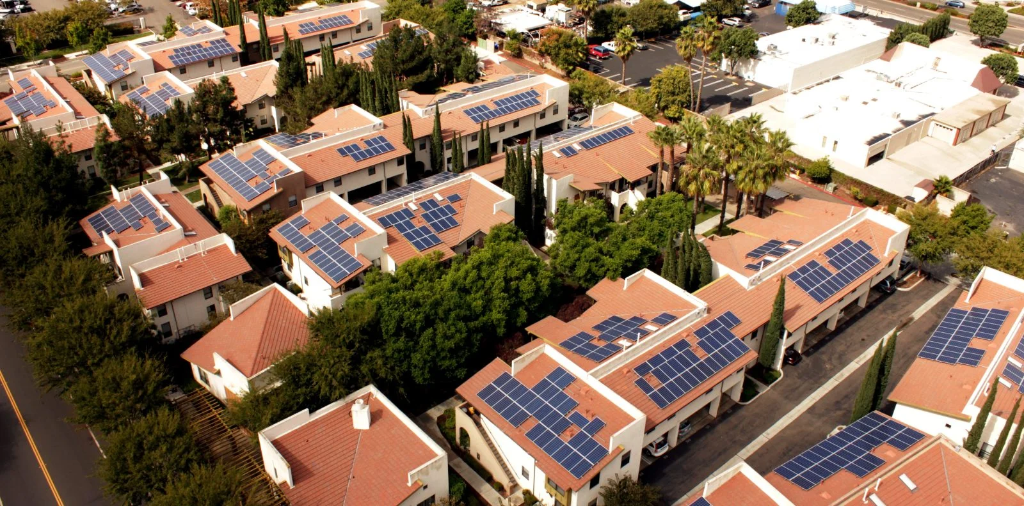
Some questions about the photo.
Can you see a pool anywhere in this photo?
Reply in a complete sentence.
No, I find no pool anywhere in the image.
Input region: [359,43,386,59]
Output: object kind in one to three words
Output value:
solar array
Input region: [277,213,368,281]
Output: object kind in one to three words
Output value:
solar array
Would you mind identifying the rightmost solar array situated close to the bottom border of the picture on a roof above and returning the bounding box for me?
[774,414,925,489]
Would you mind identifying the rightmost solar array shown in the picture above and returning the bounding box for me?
[919,307,1021,366]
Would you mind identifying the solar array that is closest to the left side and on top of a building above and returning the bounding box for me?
[0,81,72,120]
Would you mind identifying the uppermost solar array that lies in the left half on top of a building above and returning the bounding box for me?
[297,12,353,33]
